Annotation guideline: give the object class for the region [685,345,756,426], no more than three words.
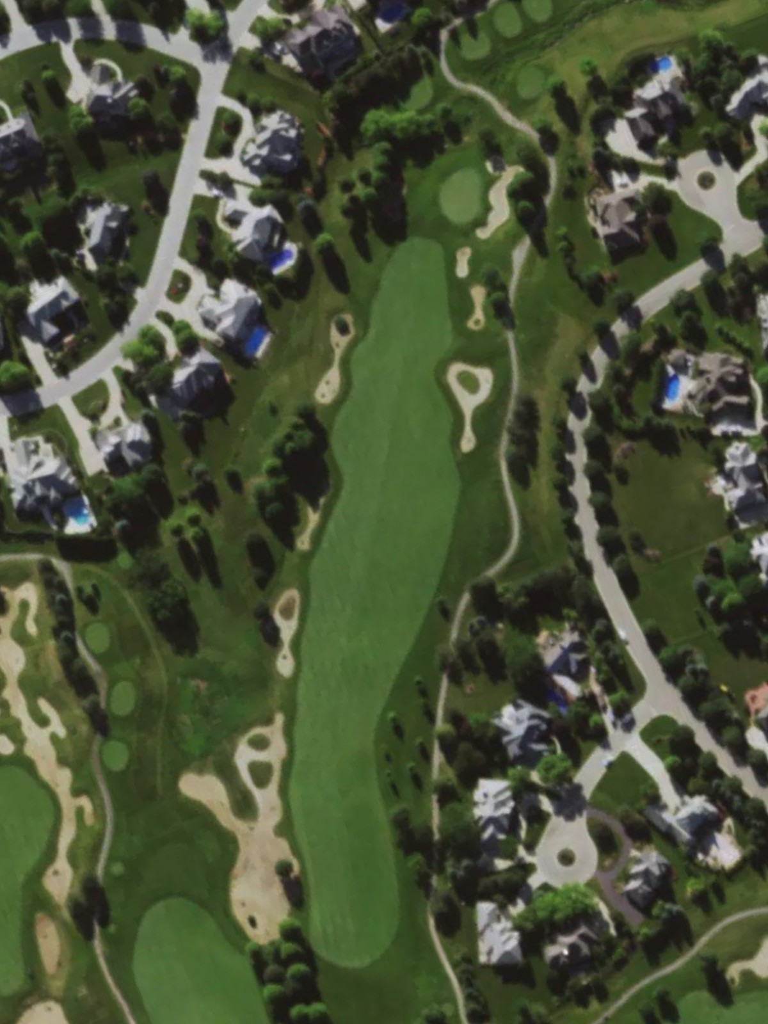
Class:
house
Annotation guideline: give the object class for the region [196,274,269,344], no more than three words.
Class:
house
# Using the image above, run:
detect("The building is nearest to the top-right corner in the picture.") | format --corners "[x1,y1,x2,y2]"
[719,61,768,129]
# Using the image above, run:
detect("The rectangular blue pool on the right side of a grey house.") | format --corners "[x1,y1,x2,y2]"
[243,326,269,356]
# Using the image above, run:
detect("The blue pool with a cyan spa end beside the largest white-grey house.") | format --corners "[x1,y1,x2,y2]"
[64,496,89,525]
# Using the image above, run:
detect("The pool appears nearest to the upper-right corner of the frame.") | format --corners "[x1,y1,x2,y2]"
[651,56,672,72]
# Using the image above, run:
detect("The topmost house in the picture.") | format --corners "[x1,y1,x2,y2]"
[284,2,367,83]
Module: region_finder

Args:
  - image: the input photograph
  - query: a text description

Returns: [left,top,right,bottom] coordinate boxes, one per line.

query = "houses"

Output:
[82,198,133,264]
[719,61,768,129]
[196,274,269,344]
[685,345,756,426]
[476,775,519,857]
[9,438,85,519]
[239,110,305,178]
[284,2,367,83]
[538,920,609,978]
[621,78,695,151]
[619,845,675,910]
[224,196,290,264]
[644,789,729,851]
[84,75,144,132]
[756,294,768,347]
[17,271,89,348]
[717,436,768,532]
[592,189,647,255]
[748,530,768,589]
[0,116,44,180]
[495,693,556,764]
[534,625,594,689]
[92,420,156,475]
[473,899,524,972]
[152,350,228,423]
